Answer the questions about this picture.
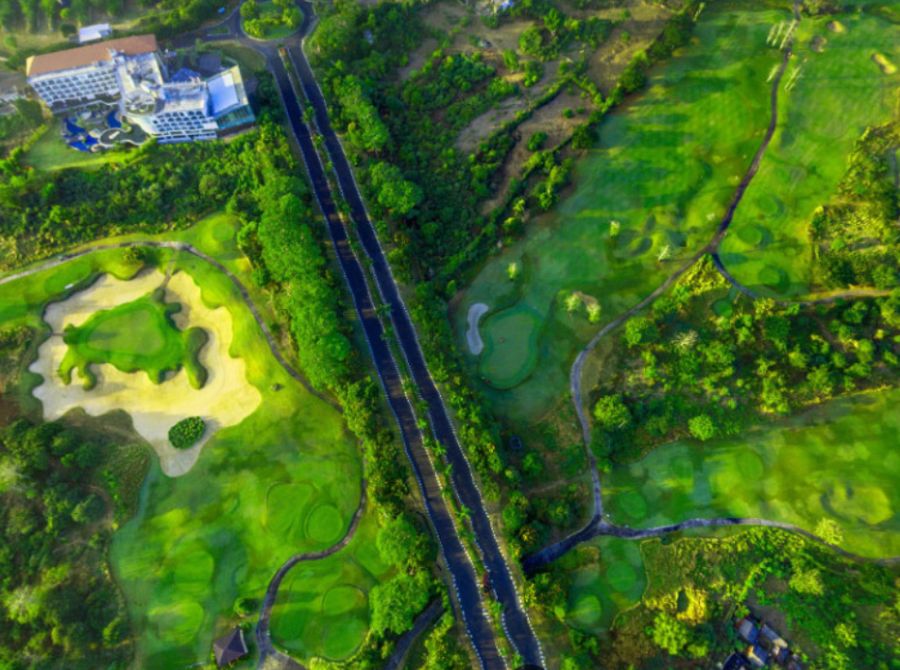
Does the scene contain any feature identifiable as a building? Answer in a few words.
Yes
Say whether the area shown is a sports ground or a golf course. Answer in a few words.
golf course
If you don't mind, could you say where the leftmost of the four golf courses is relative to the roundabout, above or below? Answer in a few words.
below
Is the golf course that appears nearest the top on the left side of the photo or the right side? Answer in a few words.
right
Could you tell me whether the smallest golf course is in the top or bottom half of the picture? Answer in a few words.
bottom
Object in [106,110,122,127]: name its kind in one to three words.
swimming pool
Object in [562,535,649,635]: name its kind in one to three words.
golf course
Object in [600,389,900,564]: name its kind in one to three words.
golf course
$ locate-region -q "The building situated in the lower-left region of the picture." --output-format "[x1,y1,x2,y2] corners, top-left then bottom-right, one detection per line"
[209,623,250,670]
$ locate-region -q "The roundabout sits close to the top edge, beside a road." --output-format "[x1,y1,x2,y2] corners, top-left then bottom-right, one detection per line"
[230,0,314,45]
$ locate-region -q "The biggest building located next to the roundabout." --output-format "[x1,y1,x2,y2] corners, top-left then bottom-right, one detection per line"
[27,35,265,148]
